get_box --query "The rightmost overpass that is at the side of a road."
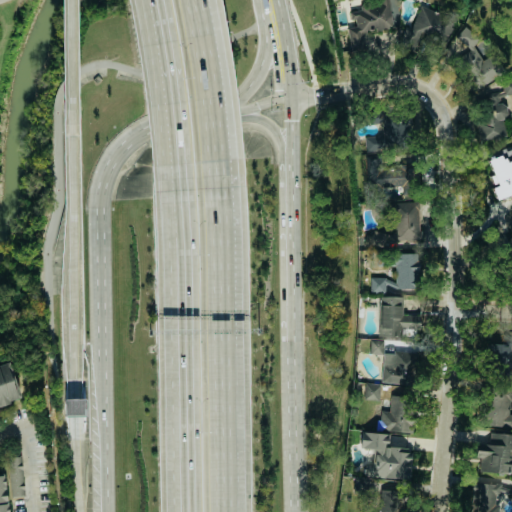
[130,0,248,192]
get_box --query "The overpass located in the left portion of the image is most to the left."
[62,0,86,424]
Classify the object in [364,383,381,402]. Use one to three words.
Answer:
building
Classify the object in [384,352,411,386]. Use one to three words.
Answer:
house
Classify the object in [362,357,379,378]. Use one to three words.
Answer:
swimming pool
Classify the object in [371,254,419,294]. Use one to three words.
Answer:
house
